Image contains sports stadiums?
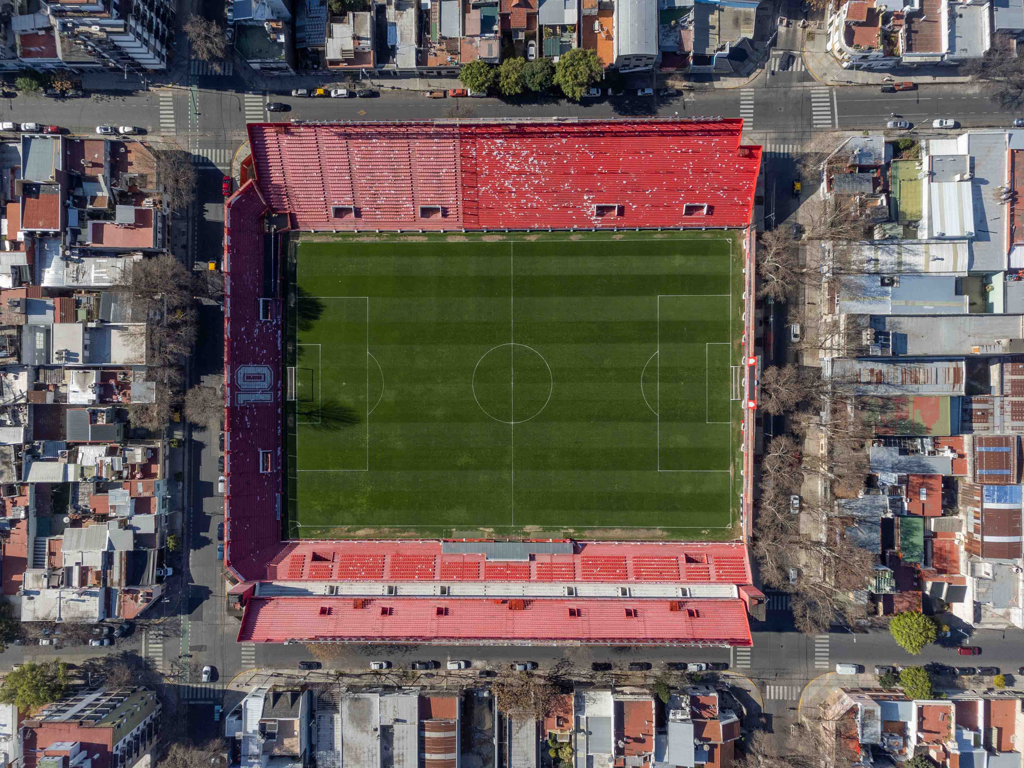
Yes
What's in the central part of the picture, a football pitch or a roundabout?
football pitch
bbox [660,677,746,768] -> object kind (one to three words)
house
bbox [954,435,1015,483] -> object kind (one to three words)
building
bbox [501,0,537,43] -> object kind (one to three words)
house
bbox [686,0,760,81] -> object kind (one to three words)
building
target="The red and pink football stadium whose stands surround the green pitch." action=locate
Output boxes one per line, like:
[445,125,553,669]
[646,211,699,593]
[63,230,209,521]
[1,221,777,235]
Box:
[222,117,766,645]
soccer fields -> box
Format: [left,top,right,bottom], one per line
[281,232,746,542]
